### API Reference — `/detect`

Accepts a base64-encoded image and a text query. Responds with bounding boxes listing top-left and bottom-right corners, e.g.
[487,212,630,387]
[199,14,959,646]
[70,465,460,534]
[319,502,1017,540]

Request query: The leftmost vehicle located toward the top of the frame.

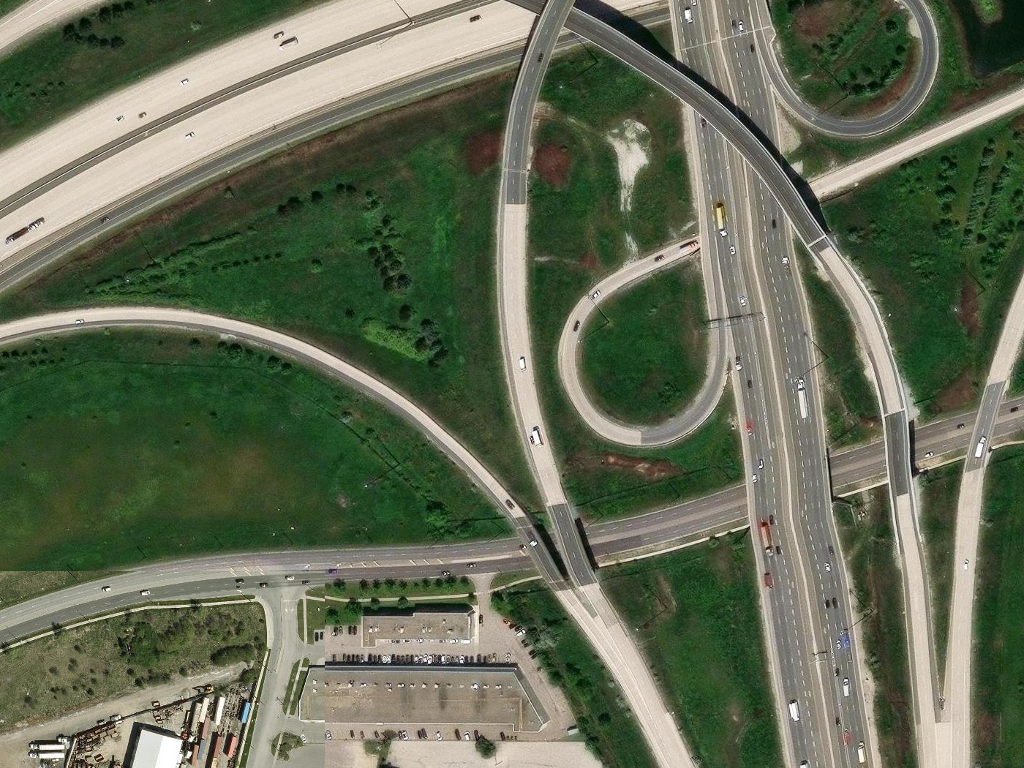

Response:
[8,219,45,241]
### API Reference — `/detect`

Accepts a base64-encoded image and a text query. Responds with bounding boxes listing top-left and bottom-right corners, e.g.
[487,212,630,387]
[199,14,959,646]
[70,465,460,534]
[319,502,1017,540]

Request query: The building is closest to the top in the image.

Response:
[363,609,476,647]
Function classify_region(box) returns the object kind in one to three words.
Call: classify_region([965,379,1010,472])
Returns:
bridge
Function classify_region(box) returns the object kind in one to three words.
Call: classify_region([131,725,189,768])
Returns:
shed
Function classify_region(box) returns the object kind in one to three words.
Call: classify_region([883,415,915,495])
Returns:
bridge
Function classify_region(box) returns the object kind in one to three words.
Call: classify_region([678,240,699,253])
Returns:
vehicle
